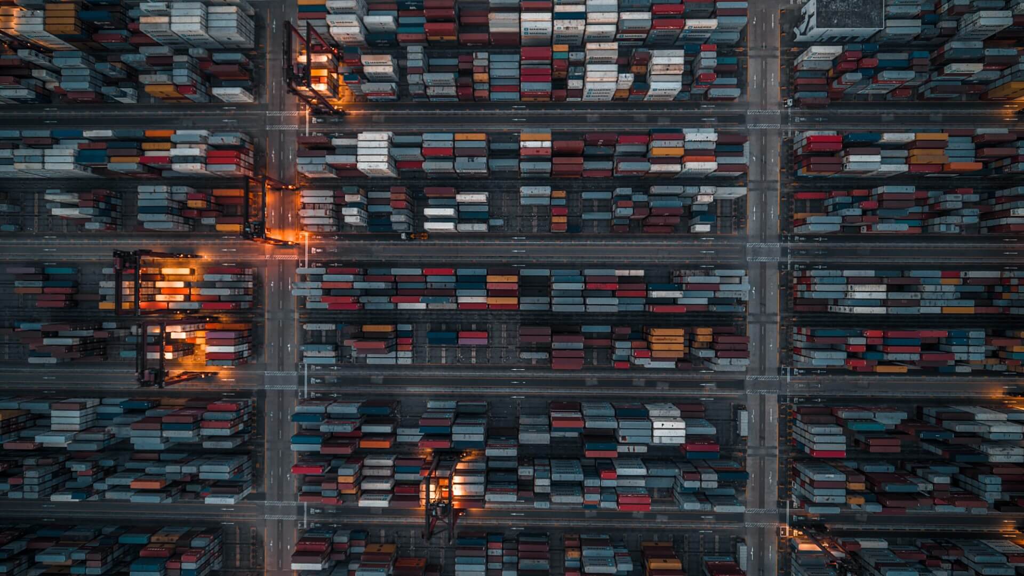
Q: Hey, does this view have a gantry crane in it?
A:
Yes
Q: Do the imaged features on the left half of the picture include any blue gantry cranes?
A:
No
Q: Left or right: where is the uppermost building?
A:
right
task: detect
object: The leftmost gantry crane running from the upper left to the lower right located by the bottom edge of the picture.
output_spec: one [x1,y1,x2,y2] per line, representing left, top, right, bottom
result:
[790,532,861,576]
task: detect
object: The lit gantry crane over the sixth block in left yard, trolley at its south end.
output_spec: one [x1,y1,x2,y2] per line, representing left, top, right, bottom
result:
[140,315,218,389]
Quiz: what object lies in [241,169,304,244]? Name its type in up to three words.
container crane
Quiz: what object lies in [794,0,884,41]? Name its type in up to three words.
building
